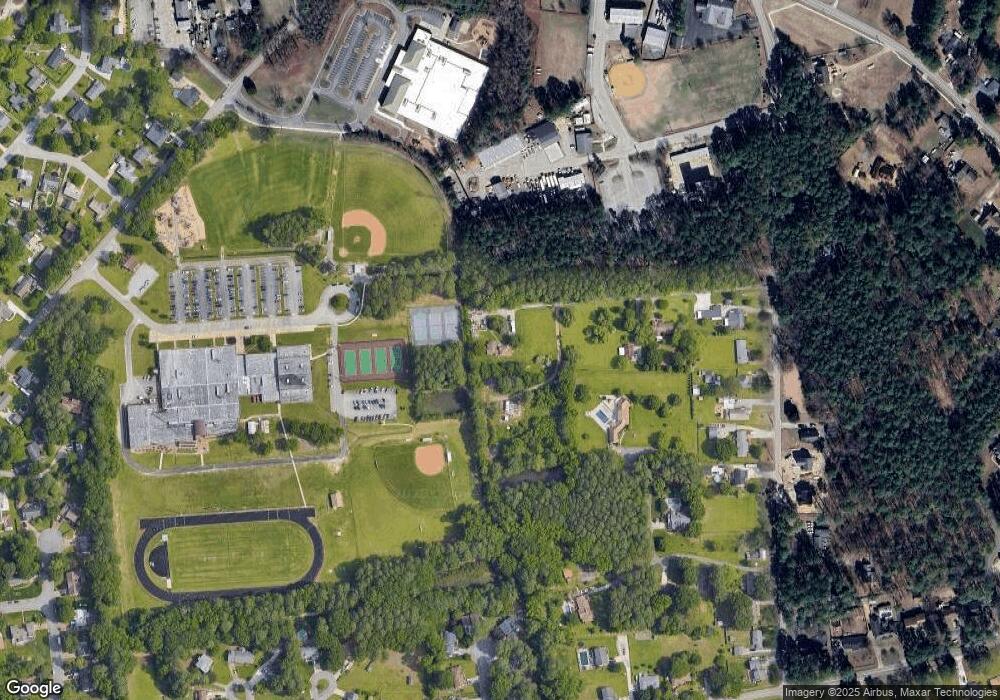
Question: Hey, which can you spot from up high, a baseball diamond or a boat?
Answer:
baseball diamond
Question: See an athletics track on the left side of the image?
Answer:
Yes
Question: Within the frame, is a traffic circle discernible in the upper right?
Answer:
No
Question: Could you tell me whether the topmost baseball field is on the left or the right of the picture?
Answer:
right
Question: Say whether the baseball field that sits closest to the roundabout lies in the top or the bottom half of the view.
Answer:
top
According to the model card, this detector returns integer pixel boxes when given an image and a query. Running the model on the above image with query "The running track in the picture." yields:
[134,508,324,602]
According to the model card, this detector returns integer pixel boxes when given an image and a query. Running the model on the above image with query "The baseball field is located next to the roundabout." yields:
[339,143,451,262]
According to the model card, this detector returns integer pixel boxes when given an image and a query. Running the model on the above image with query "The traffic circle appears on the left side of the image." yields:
[310,284,359,328]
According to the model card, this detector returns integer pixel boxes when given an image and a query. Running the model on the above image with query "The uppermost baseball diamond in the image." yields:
[608,39,763,138]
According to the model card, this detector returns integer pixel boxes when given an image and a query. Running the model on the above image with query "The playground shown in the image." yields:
[472,21,494,46]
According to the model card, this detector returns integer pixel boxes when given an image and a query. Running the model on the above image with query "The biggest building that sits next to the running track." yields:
[127,345,312,451]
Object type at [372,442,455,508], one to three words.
baseball field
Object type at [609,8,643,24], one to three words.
shed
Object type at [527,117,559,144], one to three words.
building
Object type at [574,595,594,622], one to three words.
house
